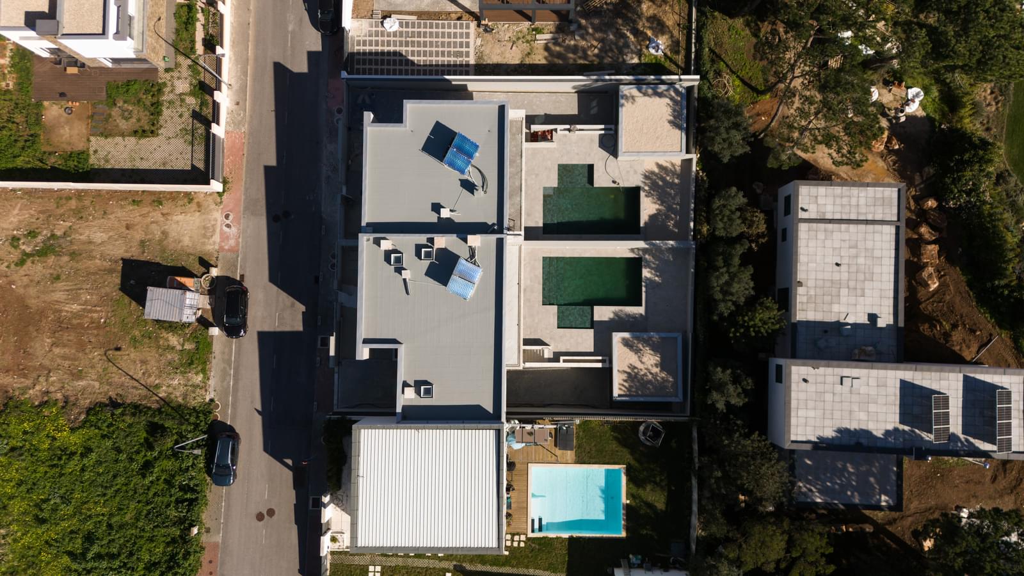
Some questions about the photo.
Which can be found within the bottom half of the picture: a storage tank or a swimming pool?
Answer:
swimming pool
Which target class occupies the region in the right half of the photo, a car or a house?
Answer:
house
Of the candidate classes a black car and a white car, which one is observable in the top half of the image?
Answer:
black car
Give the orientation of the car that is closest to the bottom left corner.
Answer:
from top to bottom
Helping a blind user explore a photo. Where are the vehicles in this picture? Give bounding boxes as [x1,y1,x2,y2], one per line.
[314,0,341,33]
[220,281,250,338]
[209,428,242,488]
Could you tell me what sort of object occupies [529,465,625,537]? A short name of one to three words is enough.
swimming pool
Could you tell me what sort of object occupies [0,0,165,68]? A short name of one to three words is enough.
house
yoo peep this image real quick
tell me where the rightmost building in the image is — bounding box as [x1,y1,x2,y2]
[768,181,1024,510]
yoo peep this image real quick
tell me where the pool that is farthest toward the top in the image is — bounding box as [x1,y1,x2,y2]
[543,164,641,234]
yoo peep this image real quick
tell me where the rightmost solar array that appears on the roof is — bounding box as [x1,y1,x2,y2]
[985,388,1012,454]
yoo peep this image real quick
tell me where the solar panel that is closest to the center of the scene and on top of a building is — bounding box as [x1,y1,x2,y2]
[446,257,482,300]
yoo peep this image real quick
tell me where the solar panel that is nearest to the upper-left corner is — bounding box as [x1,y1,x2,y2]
[443,132,480,175]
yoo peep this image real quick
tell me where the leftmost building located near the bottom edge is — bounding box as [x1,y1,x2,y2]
[350,407,507,554]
